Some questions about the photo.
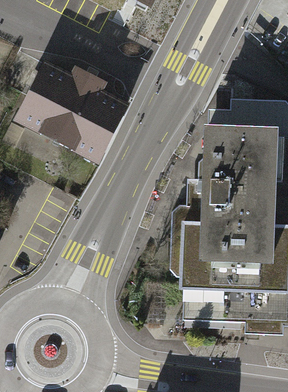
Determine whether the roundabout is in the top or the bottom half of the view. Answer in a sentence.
It is in the bottom half that the roundabout appears.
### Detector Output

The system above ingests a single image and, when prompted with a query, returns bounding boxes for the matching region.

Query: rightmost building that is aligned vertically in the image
[171,89,288,334]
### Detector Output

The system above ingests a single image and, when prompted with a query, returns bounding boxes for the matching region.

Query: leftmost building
[14,62,122,165]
